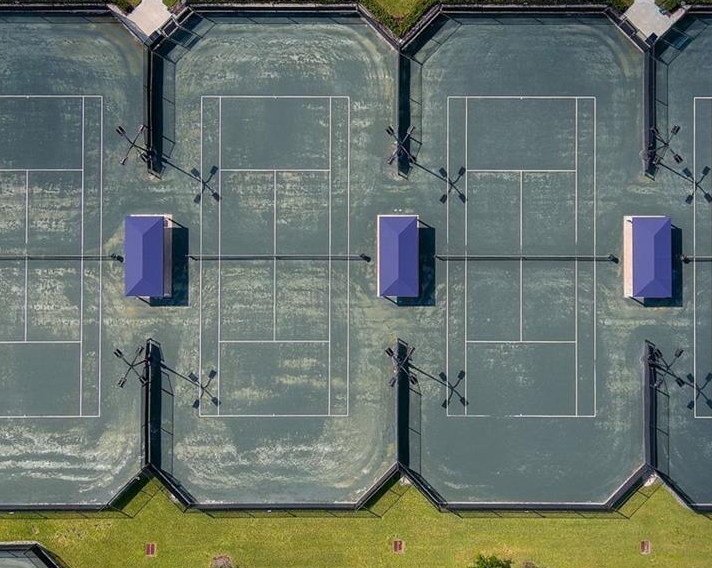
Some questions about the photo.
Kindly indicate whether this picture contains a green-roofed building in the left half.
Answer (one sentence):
No, the scene shows no green-roofed building in the left half.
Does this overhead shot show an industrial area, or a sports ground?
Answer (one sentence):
The area seen from above is a sports ground.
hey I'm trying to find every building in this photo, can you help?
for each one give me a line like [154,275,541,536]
[624,215,671,297]
[377,215,419,297]
[125,214,172,297]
